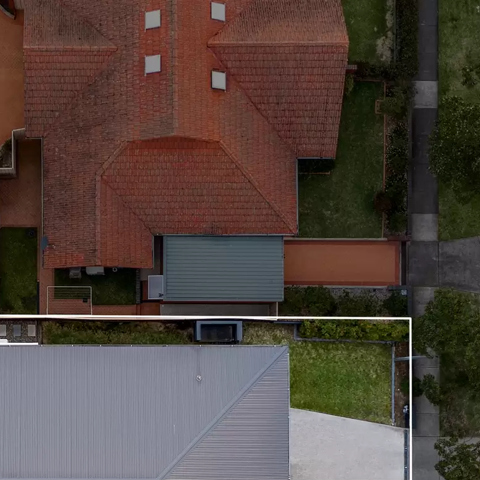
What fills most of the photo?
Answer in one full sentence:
Most of the picture is covered by buildings.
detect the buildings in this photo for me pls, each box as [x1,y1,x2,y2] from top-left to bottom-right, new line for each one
[23,0,349,270]
[0,343,293,480]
